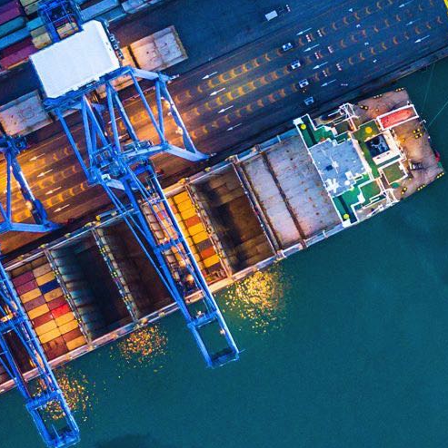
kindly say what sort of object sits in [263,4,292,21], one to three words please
vehicle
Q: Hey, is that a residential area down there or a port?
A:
port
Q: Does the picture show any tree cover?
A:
No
